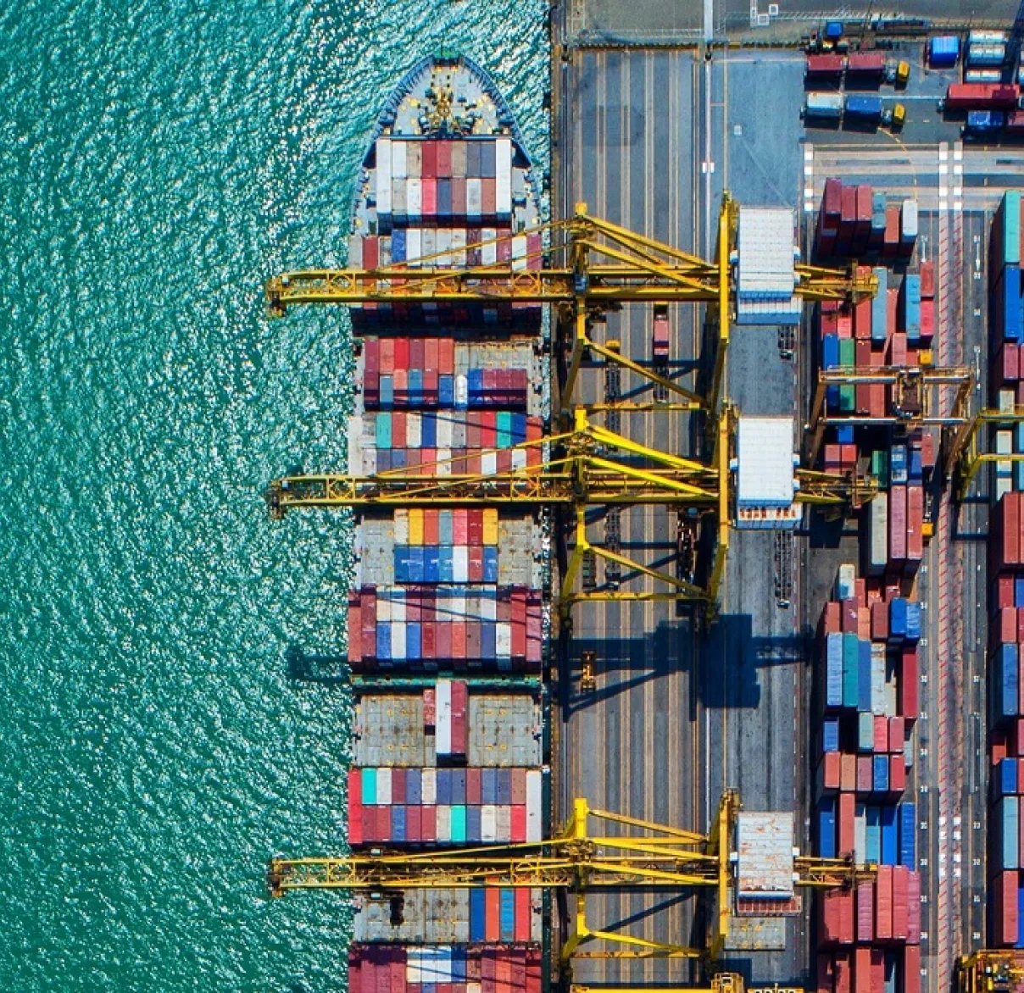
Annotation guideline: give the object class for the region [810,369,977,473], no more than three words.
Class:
container crane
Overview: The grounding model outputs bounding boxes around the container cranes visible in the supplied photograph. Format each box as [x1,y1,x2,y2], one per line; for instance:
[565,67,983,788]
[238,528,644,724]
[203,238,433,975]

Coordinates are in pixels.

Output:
[810,369,977,473]
[961,406,1024,507]
[266,783,880,975]
[266,188,880,432]
[266,394,880,620]
[957,947,1024,993]
[1005,0,1024,82]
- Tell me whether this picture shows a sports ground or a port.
port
